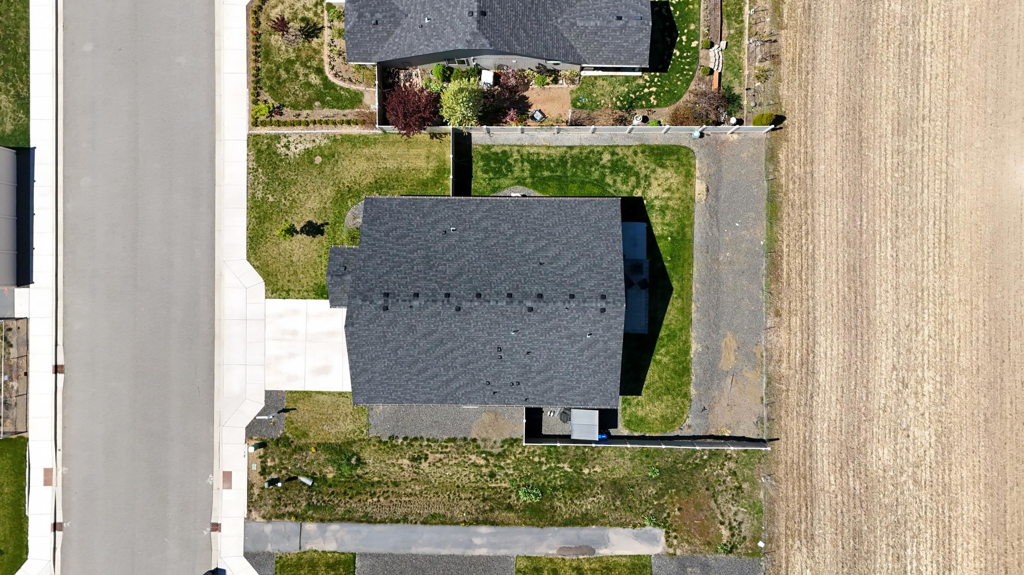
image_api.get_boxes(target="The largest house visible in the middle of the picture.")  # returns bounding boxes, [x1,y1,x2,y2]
[326,194,628,410]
